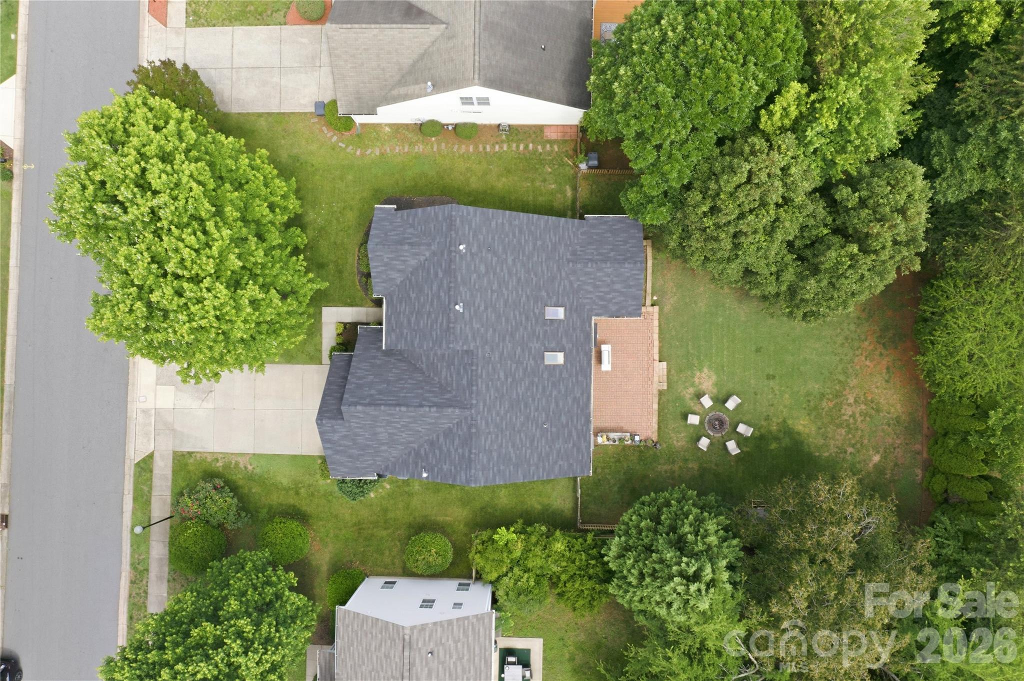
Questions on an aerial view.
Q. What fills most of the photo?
trees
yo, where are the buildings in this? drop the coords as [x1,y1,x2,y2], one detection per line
[315,579,496,681]
[328,0,593,142]
[318,204,645,485]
